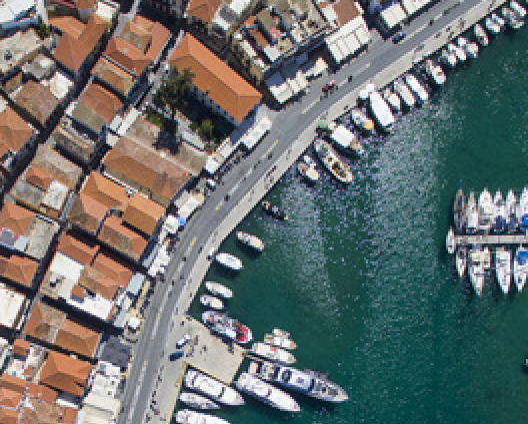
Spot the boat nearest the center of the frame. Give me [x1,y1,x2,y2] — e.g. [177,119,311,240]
[263,201,288,219]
